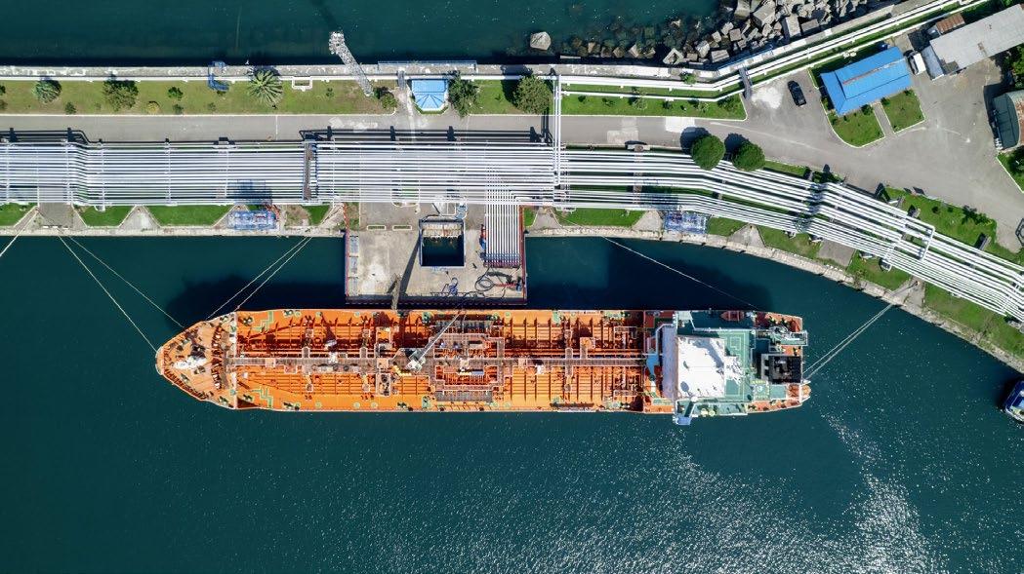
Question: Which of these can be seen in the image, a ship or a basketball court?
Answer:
ship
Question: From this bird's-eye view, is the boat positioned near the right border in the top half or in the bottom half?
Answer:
bottom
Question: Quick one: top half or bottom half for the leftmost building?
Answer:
top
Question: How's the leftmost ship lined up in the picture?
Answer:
horizontally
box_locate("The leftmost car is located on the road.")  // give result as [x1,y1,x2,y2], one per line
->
[787,81,805,107]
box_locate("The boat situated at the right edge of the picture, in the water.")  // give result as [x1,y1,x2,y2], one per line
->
[999,381,1024,421]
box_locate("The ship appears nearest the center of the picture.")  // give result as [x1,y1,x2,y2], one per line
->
[155,309,812,426]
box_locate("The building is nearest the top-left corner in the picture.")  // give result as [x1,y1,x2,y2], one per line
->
[411,79,451,111]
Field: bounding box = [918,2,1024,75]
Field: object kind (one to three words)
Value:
building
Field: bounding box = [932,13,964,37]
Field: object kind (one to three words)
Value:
shed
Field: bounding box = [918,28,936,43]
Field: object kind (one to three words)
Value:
car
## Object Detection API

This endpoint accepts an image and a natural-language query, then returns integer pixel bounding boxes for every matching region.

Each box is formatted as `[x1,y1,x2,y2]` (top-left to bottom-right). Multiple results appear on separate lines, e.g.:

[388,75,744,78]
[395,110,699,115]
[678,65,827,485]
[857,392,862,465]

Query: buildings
[932,13,964,37]
[411,79,451,111]
[815,45,912,116]
[918,2,1024,75]
[992,94,1024,146]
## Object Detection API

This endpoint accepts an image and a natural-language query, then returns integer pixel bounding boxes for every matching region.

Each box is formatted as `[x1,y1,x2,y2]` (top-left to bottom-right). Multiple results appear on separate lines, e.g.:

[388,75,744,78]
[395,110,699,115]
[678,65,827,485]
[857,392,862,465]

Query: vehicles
[905,52,926,79]
[918,28,936,43]
[787,81,805,107]
[869,40,892,55]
